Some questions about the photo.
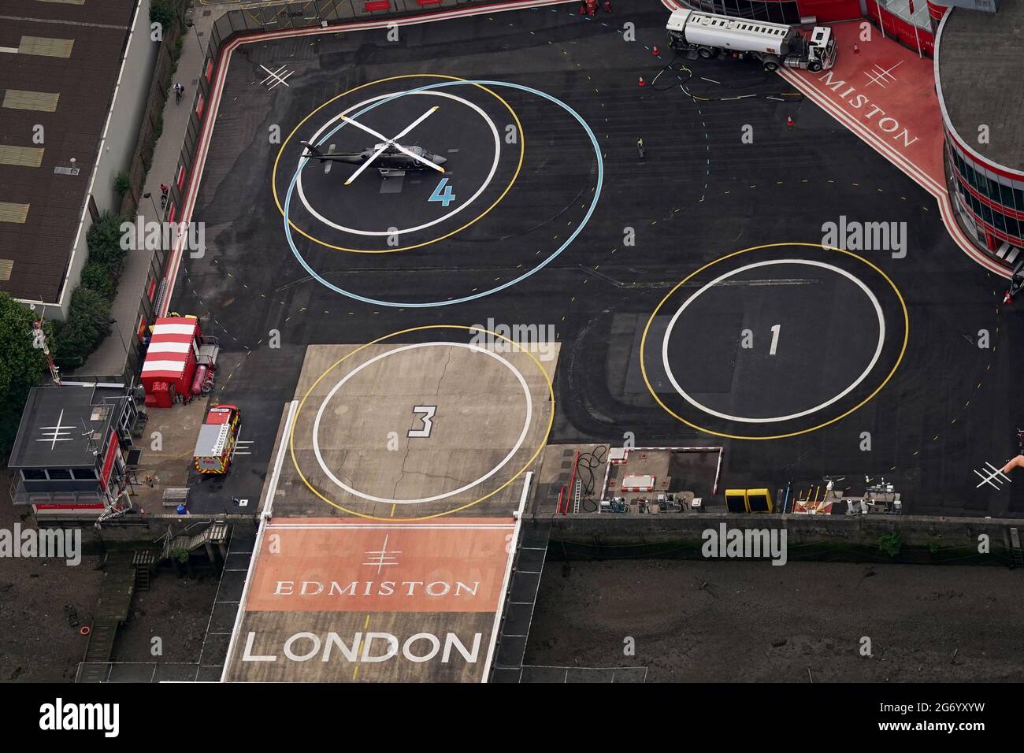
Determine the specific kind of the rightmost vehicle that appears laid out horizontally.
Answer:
truck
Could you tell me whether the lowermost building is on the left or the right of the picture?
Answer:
left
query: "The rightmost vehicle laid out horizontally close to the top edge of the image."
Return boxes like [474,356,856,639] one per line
[665,9,836,71]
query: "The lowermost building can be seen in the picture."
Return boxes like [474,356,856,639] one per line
[8,386,127,517]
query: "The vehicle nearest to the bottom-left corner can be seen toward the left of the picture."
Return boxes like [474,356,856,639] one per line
[194,404,241,474]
